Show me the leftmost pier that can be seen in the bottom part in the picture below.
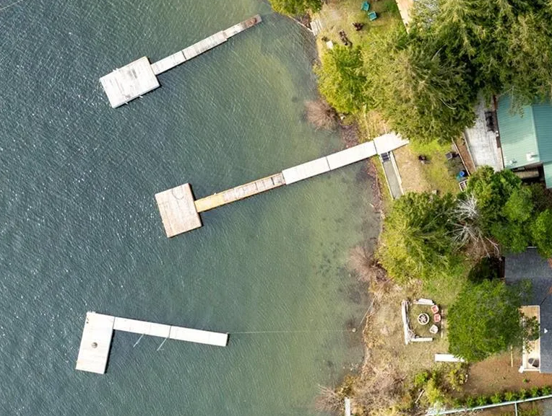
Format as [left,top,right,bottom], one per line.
[76,312,229,374]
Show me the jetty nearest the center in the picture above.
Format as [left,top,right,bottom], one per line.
[156,132,408,238]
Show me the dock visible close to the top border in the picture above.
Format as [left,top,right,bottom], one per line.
[100,15,263,108]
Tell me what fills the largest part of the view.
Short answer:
water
